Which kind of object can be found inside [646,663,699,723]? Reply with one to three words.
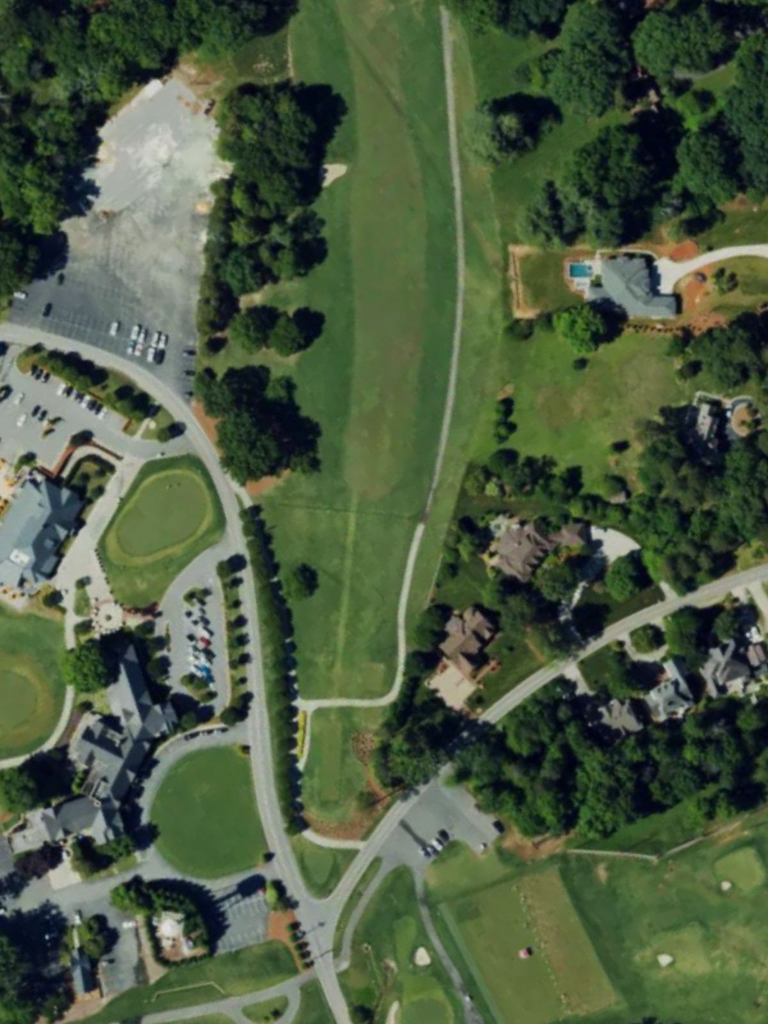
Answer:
house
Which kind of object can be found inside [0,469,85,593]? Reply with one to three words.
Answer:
building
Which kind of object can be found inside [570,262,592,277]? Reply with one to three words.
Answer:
swimming pool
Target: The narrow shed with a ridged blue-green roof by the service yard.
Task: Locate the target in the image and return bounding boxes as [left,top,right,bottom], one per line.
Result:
[66,951,91,1000]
